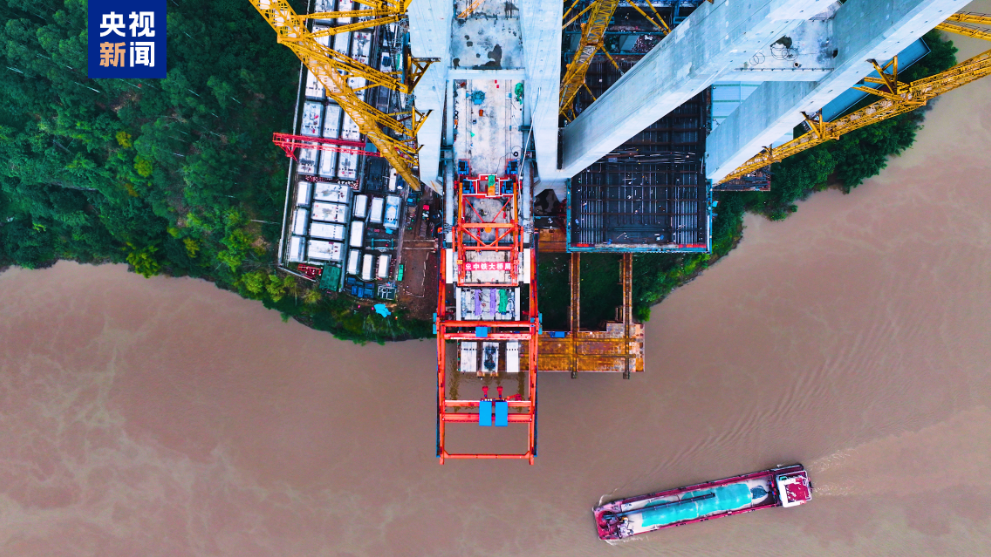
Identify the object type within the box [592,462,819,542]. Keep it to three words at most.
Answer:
vessel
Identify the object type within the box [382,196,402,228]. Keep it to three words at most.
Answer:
building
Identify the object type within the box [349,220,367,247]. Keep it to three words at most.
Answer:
building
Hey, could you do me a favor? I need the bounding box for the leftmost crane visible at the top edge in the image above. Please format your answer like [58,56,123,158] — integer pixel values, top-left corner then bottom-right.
[231,0,438,189]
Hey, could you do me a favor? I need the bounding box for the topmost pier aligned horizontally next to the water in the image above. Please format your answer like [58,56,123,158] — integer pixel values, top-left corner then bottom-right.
[458,322,646,373]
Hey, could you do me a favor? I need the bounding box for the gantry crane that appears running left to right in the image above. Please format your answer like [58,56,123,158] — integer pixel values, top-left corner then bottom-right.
[272,132,387,160]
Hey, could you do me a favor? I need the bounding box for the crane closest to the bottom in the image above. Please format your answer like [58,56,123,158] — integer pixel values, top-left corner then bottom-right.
[453,159,524,285]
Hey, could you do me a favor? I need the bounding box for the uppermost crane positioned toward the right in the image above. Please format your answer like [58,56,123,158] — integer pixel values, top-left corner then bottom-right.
[560,0,687,140]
